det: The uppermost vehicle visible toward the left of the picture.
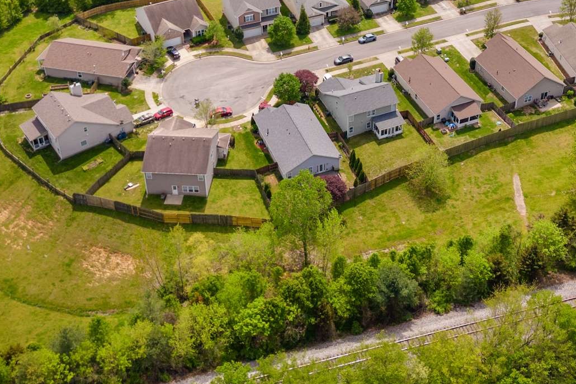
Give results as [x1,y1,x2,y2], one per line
[167,43,179,57]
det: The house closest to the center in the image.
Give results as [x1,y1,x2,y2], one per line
[249,93,340,182]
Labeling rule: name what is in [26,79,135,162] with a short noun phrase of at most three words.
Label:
house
